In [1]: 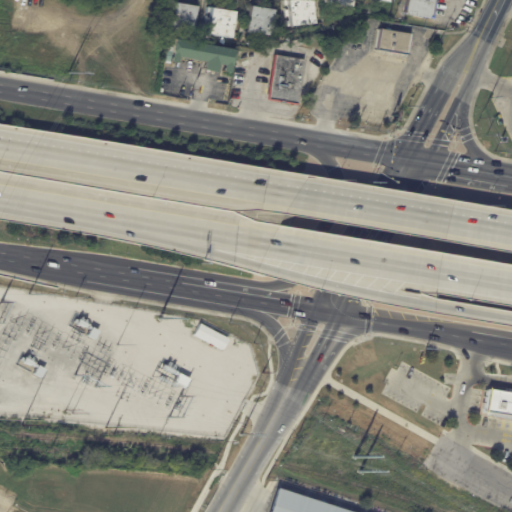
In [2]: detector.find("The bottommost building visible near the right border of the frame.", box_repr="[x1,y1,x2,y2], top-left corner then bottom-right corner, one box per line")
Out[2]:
[482,384,512,418]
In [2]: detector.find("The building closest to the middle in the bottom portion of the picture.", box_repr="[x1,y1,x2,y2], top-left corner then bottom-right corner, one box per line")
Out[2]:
[193,322,229,350]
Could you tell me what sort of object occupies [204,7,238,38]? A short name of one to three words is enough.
house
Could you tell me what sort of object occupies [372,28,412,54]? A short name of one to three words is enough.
building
